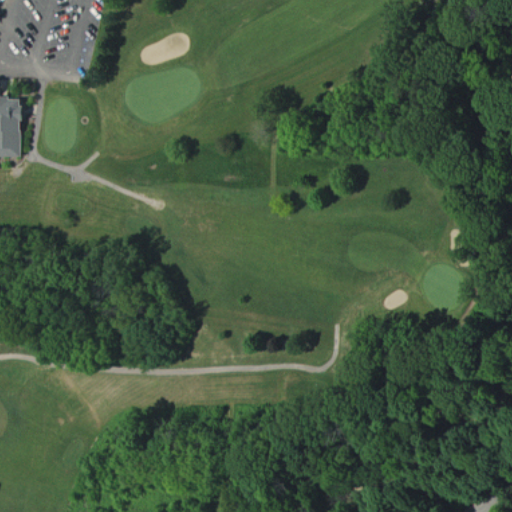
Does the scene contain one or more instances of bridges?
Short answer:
No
